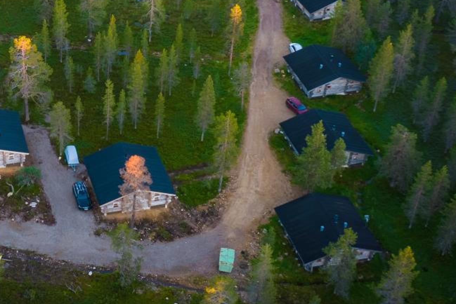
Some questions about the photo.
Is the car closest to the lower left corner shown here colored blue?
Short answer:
Yes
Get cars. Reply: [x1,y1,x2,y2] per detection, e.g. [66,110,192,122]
[286,38,307,53]
[281,91,314,115]
[70,177,94,212]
